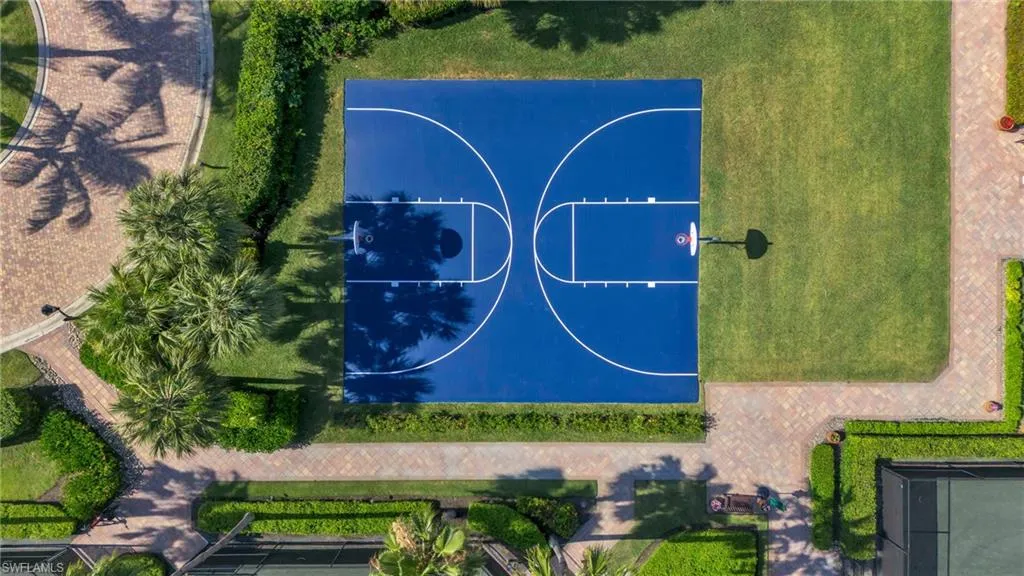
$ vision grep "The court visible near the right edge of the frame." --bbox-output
[887,463,1024,576]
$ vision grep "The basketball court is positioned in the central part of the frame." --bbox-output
[344,79,702,404]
